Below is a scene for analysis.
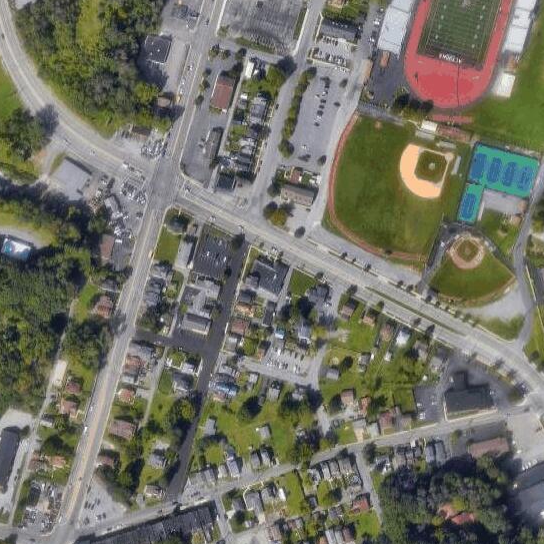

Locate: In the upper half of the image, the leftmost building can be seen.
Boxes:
[48,157,91,200]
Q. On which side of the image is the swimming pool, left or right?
left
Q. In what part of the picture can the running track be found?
top right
